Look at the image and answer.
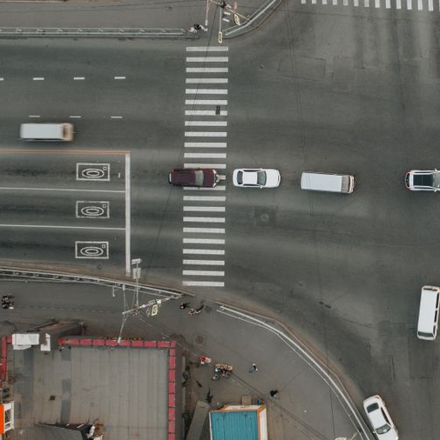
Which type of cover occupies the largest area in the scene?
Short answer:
paved ground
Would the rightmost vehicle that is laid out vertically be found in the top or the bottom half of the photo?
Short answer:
bottom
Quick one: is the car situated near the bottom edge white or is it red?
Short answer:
white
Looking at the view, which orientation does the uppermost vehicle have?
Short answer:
from side to side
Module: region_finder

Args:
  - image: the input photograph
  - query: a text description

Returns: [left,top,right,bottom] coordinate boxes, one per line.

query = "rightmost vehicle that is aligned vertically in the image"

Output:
[415,284,440,340]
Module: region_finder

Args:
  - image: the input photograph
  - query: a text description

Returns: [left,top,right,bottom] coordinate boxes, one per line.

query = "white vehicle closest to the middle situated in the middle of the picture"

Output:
[232,167,282,189]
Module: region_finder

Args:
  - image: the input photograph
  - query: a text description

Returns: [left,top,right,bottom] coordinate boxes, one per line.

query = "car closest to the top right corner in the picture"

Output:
[405,169,440,192]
